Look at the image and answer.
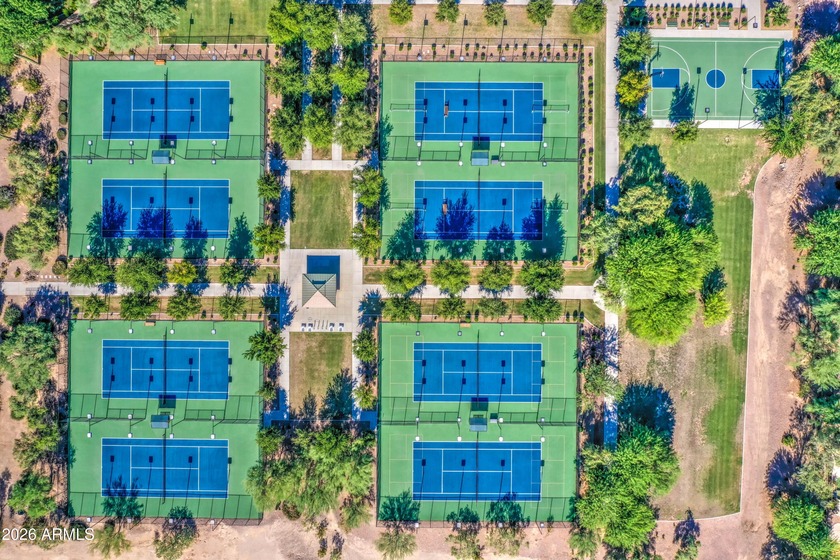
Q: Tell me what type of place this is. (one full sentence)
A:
The area seen from above is a sports ground.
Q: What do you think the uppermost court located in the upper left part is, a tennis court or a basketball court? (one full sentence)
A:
The uppermost court located in the upper left part can be classified as a tennis court.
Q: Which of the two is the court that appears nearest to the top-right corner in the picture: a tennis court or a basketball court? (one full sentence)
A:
The court that appears nearest to the top-right corner can be classified as a basketball court.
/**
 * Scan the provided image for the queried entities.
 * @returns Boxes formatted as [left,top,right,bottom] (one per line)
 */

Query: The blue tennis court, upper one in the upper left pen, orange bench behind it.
[69,61,265,158]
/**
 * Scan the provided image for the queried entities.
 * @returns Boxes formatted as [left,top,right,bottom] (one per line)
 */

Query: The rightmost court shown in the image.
[648,38,783,120]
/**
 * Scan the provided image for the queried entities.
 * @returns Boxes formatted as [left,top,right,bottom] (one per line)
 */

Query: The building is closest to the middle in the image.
[302,274,336,307]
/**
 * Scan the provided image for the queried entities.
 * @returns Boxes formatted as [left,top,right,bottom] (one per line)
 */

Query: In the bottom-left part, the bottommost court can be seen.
[69,419,264,517]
